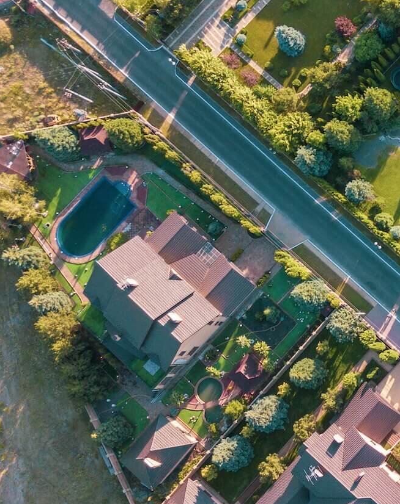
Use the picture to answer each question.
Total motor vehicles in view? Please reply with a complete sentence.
I count no motor vehicles.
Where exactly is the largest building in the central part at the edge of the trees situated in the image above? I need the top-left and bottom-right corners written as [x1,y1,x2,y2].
[84,212,261,372]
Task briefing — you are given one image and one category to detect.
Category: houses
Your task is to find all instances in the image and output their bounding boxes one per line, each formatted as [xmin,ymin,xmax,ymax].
[257,389,400,504]
[0,141,36,181]
[167,479,222,504]
[84,212,261,372]
[120,415,199,491]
